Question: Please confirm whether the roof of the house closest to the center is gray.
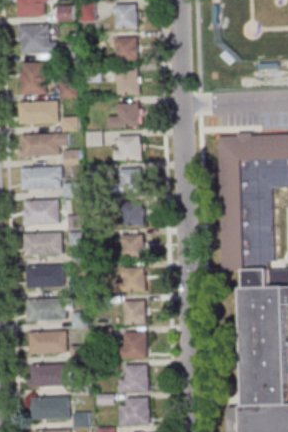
Yes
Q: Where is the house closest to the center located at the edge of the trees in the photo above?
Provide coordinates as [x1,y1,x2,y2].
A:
[120,202,146,226]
